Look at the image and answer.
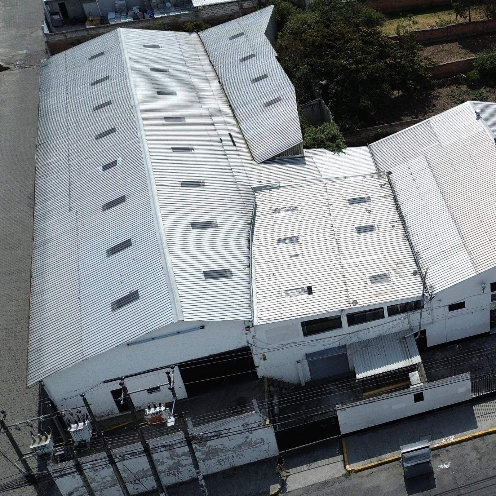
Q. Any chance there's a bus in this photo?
No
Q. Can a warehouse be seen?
Yes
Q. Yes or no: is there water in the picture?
No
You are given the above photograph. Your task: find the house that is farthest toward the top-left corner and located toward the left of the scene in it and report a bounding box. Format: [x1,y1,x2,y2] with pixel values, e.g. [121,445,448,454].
[39,0,95,41]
